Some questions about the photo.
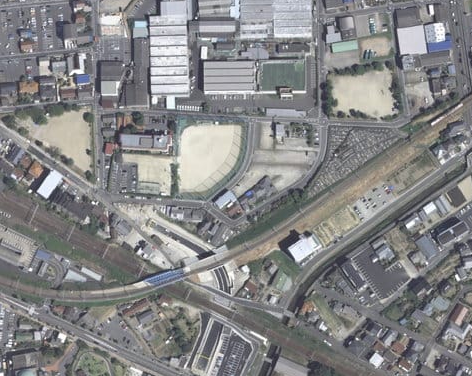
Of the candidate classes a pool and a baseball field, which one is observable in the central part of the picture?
baseball field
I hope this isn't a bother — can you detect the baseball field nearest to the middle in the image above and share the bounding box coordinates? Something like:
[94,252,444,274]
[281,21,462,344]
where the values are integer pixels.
[175,120,246,200]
